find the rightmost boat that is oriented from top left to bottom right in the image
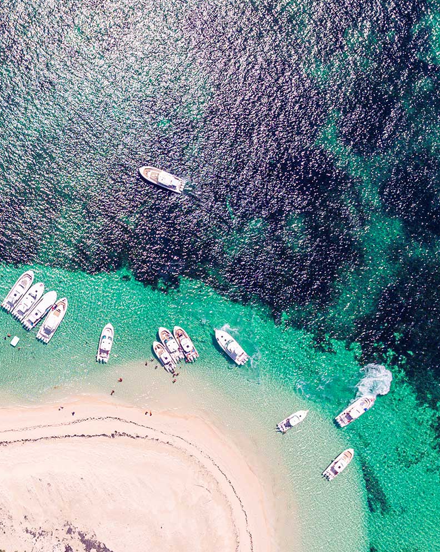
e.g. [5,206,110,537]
[214,328,249,367]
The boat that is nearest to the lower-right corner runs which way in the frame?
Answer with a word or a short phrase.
on a diagonal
